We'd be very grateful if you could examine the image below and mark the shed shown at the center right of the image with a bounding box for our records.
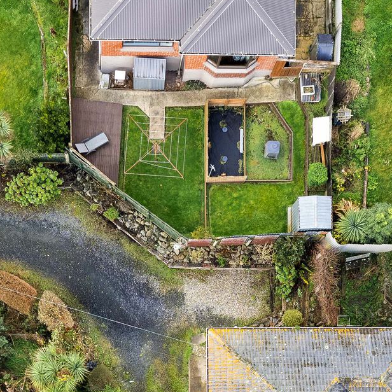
[287,196,332,239]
